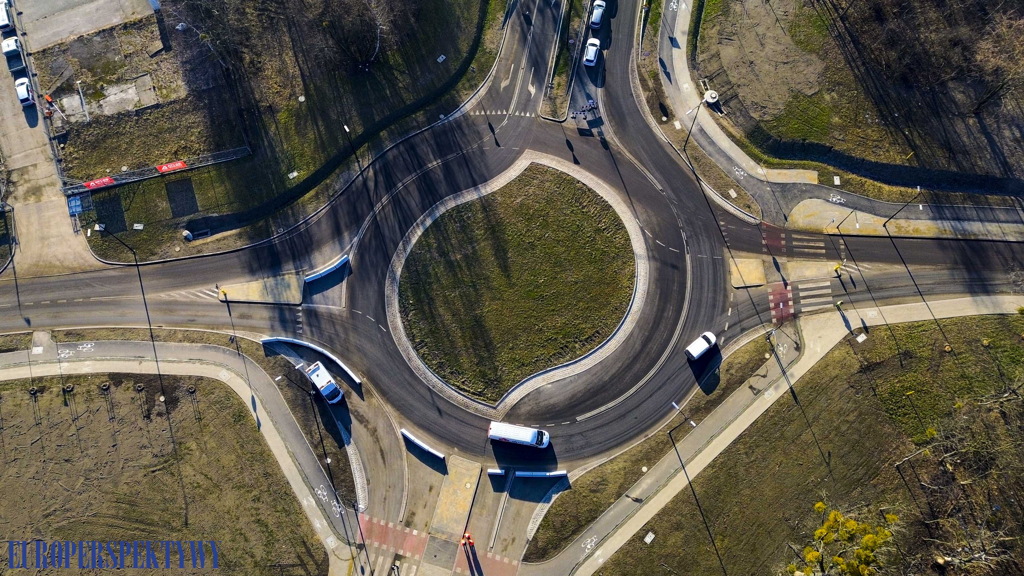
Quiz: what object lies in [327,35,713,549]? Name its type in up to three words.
roundabout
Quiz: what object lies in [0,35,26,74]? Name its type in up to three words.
truck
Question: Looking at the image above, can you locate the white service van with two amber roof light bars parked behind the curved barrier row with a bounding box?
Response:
[304,359,345,409]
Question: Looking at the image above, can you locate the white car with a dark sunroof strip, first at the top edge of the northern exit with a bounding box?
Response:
[589,2,607,31]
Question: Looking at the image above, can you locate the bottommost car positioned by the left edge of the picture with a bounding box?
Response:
[14,79,36,108]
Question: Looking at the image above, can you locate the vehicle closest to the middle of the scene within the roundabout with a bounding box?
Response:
[488,421,549,448]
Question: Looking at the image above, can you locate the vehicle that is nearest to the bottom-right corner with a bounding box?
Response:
[682,330,718,363]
